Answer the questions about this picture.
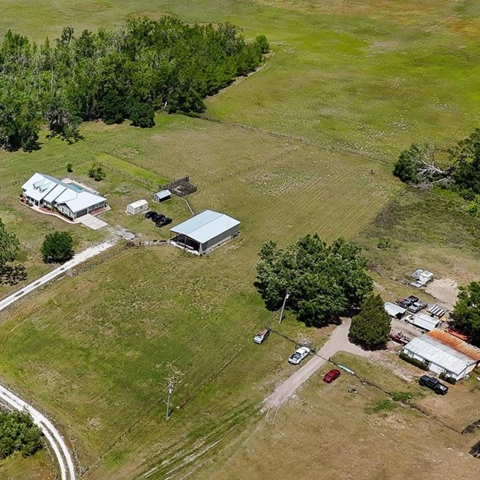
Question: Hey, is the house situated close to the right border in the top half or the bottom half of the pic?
bottom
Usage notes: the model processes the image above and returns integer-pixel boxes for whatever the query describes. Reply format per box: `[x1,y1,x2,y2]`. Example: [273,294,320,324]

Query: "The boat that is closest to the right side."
[440,325,476,342]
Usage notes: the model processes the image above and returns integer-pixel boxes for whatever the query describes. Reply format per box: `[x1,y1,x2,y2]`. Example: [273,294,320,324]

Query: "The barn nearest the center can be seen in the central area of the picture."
[168,209,242,257]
